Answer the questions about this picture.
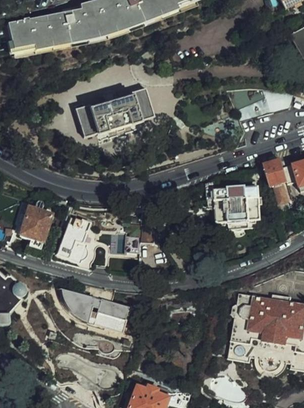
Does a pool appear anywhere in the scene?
Yes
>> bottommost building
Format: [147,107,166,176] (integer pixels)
[127,382,190,408]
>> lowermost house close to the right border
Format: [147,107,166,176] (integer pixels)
[228,294,304,379]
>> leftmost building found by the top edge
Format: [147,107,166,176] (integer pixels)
[10,0,200,58]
